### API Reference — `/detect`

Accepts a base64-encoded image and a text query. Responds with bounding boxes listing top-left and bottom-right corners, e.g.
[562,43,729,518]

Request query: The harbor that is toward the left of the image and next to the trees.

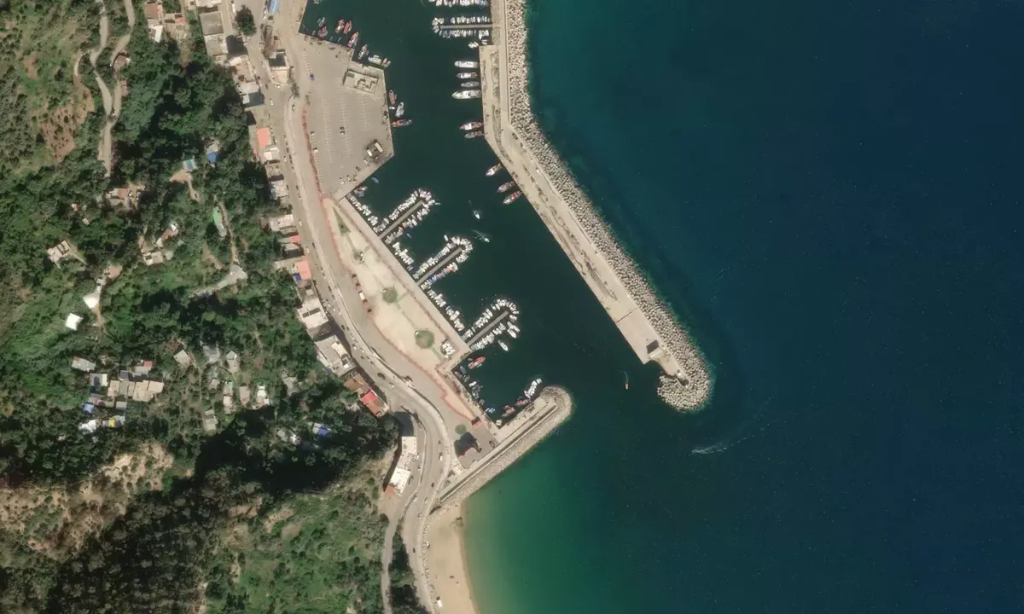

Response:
[264,0,499,495]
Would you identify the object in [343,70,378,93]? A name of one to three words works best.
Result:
building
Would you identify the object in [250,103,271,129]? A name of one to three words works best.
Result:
building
